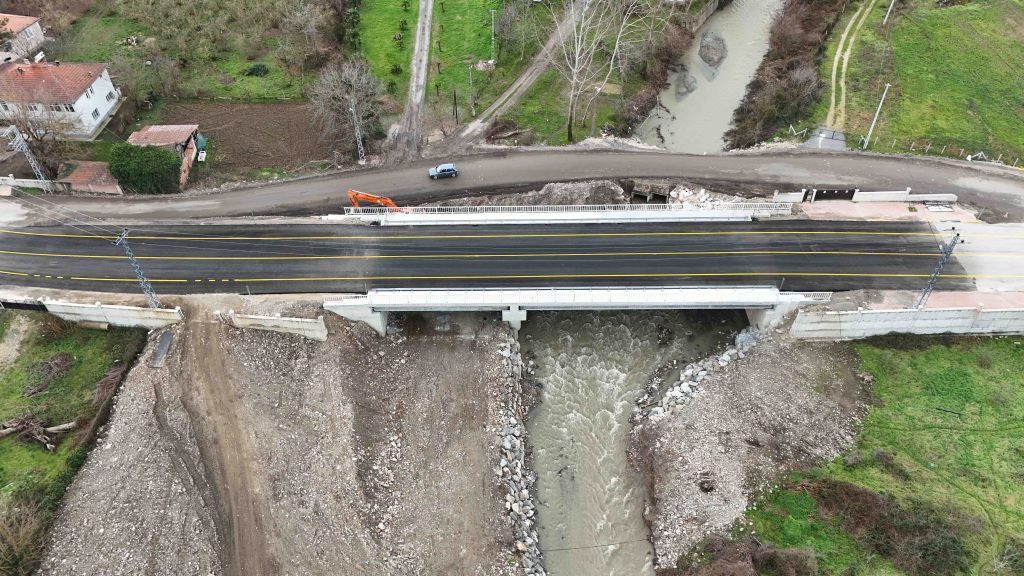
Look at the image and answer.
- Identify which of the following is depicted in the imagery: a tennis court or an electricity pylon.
electricity pylon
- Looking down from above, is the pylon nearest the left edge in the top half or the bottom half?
top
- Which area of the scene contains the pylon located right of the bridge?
right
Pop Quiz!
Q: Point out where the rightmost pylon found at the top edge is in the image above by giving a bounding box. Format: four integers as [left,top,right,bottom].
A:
[486,8,498,63]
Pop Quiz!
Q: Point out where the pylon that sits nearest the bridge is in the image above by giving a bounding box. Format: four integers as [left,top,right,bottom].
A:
[350,96,367,163]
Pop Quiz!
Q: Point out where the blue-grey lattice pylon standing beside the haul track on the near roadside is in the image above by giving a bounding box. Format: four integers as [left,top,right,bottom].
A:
[108,224,164,315]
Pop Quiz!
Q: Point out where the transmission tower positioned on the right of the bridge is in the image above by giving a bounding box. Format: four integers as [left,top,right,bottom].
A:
[913,226,971,314]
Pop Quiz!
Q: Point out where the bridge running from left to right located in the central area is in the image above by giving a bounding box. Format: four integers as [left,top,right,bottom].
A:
[320,201,835,337]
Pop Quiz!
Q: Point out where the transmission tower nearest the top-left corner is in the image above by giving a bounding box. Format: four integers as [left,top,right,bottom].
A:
[7,121,57,193]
